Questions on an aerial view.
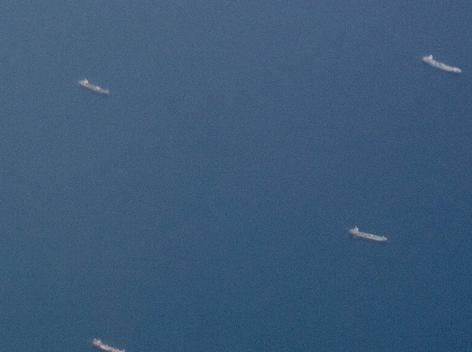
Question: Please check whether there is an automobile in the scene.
No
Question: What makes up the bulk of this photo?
water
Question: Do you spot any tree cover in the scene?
No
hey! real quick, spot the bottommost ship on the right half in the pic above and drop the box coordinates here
[349,228,387,241]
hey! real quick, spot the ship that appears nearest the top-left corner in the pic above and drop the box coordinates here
[77,79,109,94]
